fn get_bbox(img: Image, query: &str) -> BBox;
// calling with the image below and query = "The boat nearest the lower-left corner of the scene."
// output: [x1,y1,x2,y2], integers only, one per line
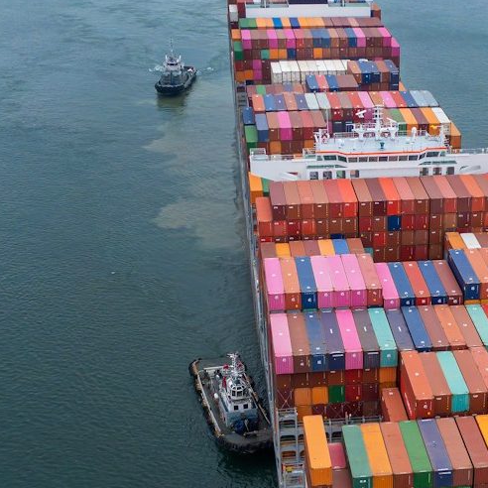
[187,340,274,463]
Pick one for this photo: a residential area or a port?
port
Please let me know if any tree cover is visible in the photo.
No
